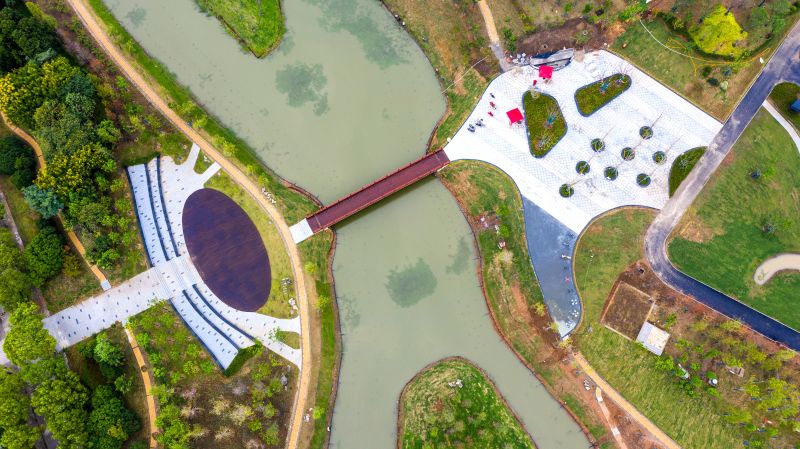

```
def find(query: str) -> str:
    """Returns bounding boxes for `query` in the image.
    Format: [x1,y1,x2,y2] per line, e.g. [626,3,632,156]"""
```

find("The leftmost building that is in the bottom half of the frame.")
[638,324,670,355]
